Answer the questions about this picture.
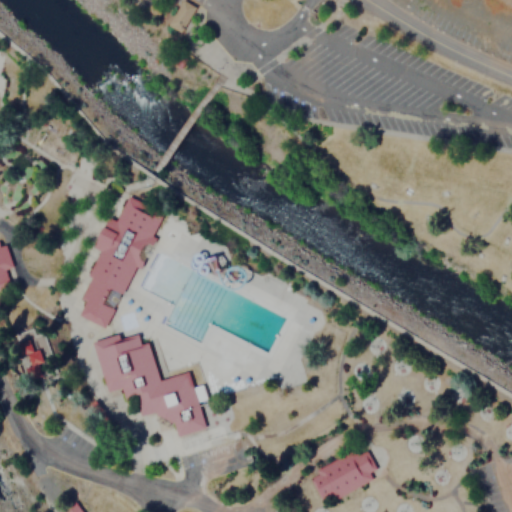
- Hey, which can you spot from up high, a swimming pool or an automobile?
swimming pool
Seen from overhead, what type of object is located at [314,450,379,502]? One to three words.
building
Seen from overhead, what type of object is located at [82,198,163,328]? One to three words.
building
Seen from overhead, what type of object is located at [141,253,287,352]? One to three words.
swimming pool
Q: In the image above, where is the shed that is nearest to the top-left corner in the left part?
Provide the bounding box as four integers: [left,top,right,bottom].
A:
[170,2,198,32]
